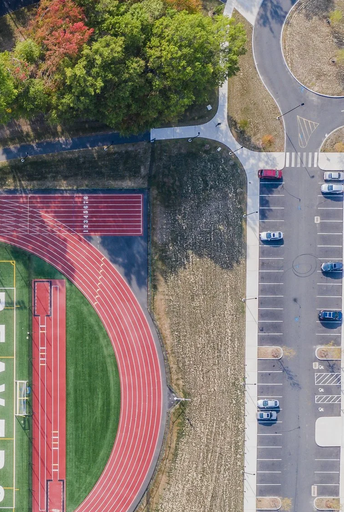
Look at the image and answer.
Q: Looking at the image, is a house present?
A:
No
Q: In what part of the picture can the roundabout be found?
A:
top right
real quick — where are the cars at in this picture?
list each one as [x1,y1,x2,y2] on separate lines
[261,230,284,240]
[321,310,344,320]
[260,167,284,178]
[324,170,344,180]
[257,411,280,420]
[258,399,281,409]
[322,261,344,271]
[323,182,344,192]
